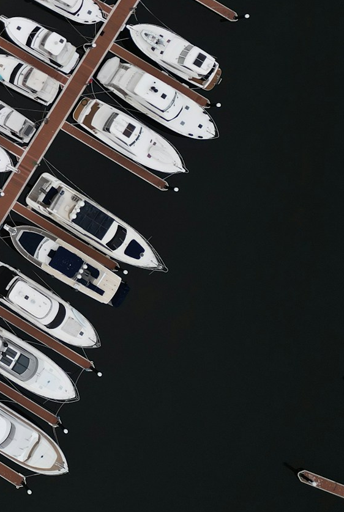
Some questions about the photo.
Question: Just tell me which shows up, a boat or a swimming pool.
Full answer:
Of the two, only a boat appears.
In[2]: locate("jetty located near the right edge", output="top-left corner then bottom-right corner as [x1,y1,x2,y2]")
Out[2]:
[296,471,344,497]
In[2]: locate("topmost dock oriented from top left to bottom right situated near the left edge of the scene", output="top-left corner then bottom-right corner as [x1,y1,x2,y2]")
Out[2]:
[0,36,71,87]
